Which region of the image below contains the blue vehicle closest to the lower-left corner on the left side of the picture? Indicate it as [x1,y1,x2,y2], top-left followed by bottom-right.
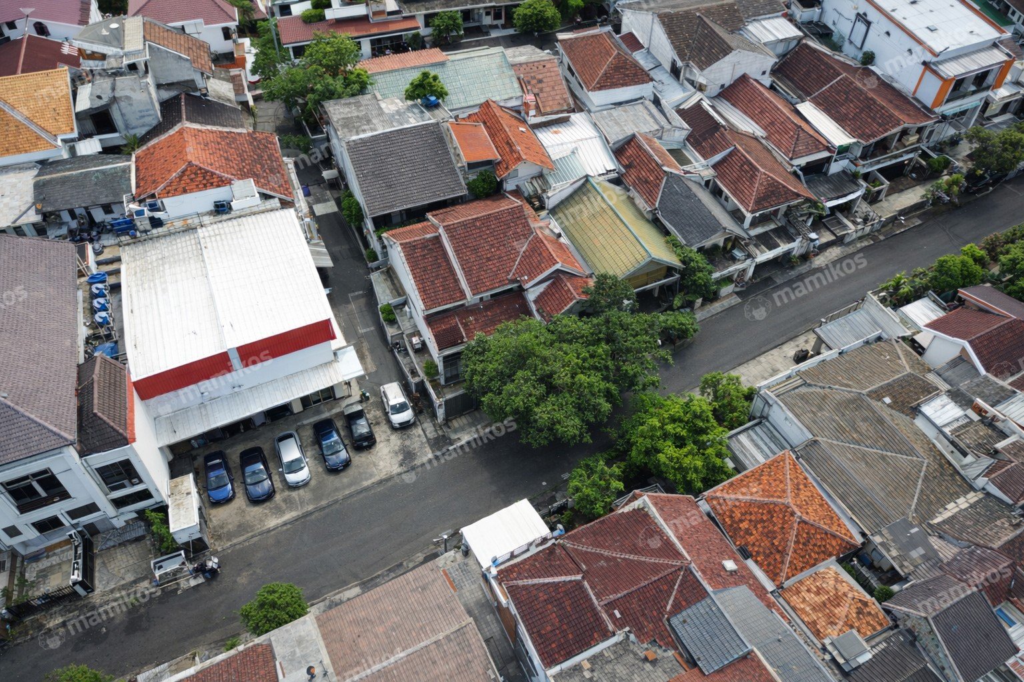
[202,452,234,505]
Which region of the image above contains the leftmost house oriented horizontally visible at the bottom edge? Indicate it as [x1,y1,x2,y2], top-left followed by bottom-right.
[158,610,336,682]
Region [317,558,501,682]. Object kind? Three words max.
house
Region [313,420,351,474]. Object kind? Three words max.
car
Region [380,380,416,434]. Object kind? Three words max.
car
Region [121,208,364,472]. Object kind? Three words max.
building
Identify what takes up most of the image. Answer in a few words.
buildings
